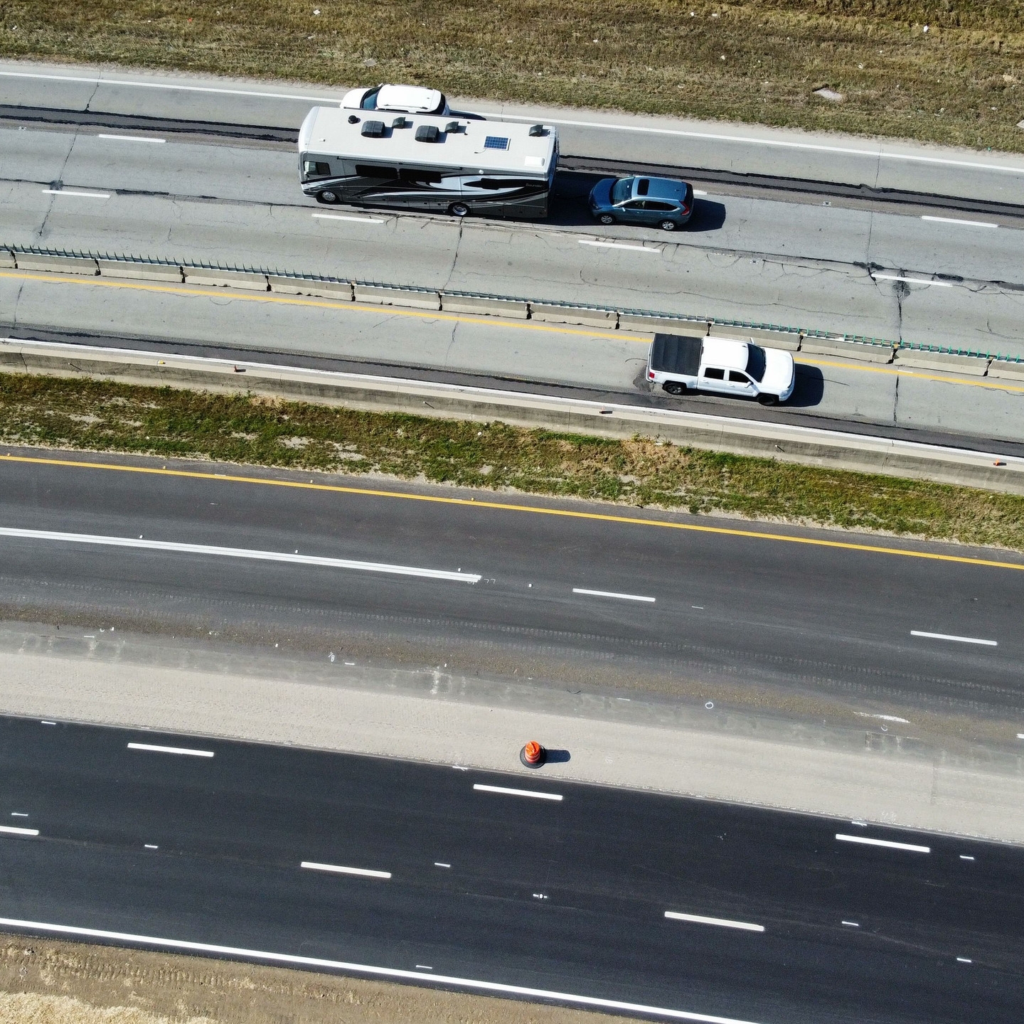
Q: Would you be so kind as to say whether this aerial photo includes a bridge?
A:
No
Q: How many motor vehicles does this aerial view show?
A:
4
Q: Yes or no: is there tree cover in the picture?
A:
No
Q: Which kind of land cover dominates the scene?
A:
paved ground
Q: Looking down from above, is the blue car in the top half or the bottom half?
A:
top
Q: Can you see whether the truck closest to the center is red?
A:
No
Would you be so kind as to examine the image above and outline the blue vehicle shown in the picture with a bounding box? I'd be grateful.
[588,173,695,230]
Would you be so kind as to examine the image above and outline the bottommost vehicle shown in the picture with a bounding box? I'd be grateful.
[645,333,796,407]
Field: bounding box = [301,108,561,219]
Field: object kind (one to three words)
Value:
camper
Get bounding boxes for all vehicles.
[339,81,452,116]
[301,108,561,219]
[645,333,796,407]
[588,173,695,230]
